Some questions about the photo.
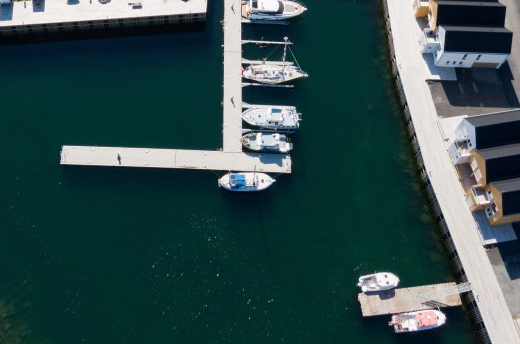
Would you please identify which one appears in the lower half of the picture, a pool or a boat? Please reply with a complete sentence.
It is a boat that can be seen in the lower half of the picture.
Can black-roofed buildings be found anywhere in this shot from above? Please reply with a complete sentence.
Yes, the photo shows a black-roofed building.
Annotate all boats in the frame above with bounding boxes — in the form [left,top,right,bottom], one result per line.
[241,132,295,154]
[215,172,275,191]
[242,106,305,131]
[389,311,447,335]
[241,42,307,83]
[356,272,400,291]
[241,0,309,19]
